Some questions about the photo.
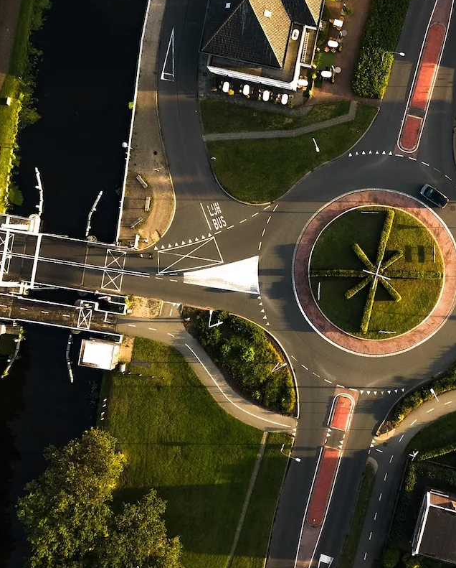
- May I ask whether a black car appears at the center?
No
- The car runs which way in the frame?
at an angle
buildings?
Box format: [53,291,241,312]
[78,338,125,370]
[199,0,325,88]
[415,484,456,564]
